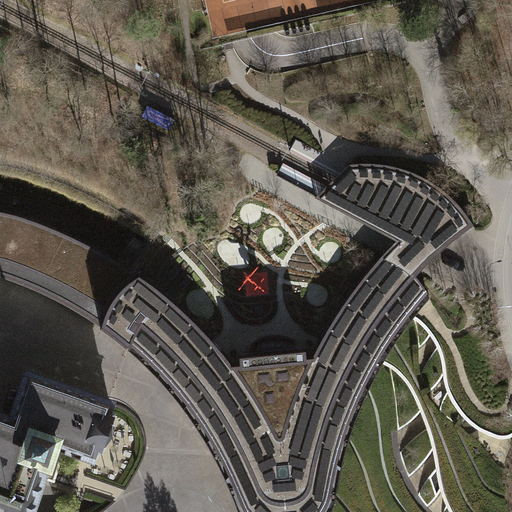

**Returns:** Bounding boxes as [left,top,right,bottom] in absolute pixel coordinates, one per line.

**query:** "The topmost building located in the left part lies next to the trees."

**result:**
[142,107,174,130]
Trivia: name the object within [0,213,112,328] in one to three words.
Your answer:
building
